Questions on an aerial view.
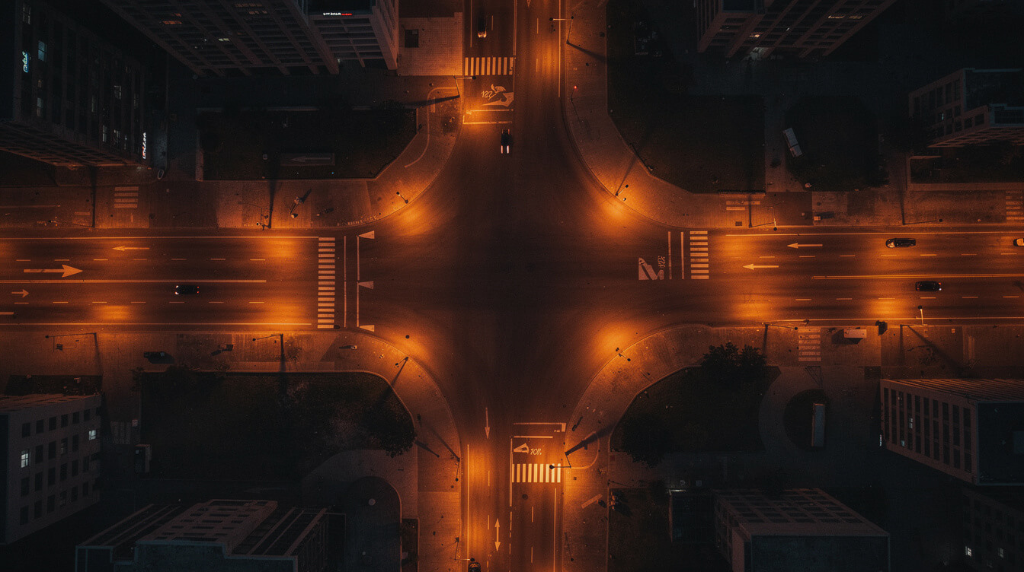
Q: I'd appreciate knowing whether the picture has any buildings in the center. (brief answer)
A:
No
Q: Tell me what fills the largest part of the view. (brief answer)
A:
paved ground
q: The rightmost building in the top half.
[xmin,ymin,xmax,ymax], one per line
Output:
[909,65,1024,146]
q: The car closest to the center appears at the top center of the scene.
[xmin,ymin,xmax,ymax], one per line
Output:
[499,127,511,154]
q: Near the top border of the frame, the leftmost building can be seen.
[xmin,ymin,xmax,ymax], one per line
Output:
[0,0,144,165]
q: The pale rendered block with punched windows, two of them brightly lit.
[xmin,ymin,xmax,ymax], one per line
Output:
[0,396,100,550]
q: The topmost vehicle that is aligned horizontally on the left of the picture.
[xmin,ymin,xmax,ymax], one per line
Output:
[173,284,198,296]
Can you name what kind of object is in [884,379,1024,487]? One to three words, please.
building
